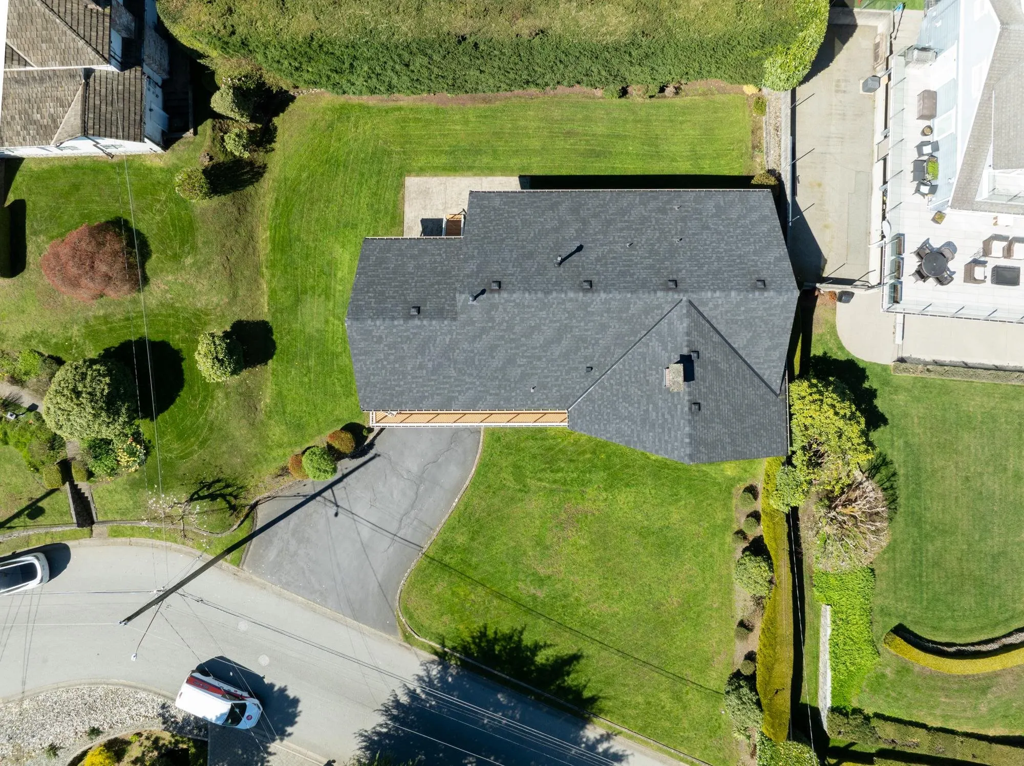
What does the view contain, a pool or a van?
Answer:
van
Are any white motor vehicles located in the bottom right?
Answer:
No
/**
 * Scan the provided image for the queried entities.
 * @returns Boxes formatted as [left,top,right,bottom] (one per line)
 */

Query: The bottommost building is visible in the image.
[346,188,799,464]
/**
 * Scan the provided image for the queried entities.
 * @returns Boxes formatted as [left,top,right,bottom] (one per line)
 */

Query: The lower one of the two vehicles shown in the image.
[174,672,260,725]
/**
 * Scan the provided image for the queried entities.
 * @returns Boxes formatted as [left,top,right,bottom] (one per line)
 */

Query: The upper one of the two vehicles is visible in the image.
[0,559,54,604]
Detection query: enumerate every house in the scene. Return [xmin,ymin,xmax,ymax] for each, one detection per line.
[346,188,799,464]
[879,0,1024,327]
[0,0,164,159]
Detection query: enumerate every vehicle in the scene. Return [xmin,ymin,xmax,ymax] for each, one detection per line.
[174,672,260,725]
[0,559,54,604]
